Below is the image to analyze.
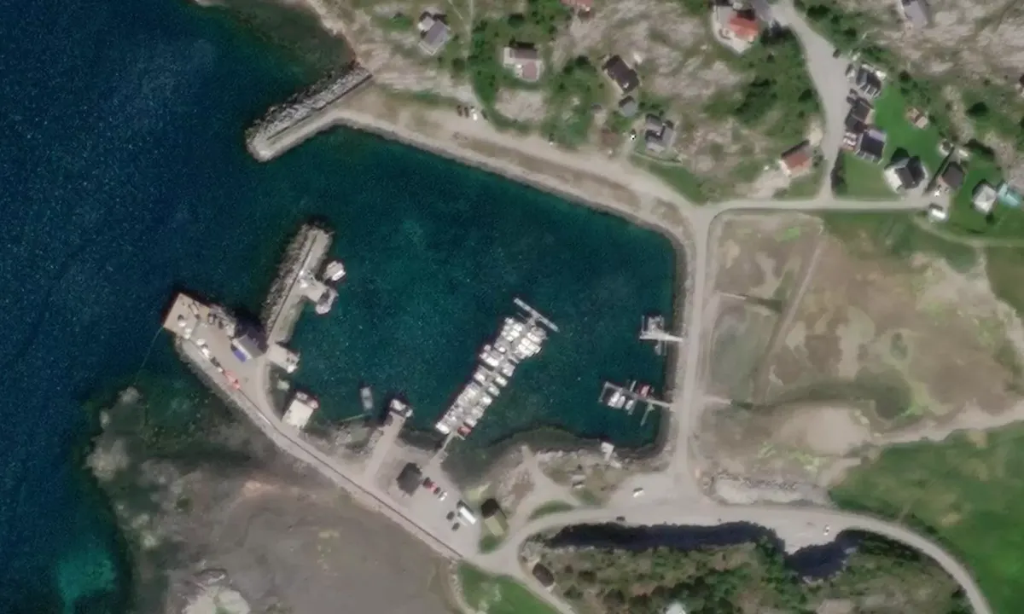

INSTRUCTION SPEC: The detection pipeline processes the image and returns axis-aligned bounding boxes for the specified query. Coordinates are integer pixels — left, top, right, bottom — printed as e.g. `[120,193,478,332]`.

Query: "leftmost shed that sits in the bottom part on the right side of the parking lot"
[481,508,507,537]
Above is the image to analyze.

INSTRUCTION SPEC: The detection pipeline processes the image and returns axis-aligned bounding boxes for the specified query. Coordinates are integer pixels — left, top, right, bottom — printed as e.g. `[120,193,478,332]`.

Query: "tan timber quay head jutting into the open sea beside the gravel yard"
[164,293,209,338]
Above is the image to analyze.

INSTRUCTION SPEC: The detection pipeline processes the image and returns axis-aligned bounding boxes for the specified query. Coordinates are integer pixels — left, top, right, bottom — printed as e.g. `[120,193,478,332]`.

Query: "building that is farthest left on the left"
[235,324,271,360]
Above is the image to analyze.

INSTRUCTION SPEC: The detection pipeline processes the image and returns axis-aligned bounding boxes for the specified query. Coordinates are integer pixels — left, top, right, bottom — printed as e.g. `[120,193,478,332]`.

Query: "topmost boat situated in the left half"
[322,265,340,280]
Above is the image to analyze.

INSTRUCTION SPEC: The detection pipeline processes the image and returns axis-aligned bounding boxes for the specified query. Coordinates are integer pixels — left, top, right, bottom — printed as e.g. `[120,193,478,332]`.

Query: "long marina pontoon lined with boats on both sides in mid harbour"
[452,315,536,439]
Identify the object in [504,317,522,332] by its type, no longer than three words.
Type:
boat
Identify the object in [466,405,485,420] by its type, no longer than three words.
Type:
boat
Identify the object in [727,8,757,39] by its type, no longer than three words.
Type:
house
